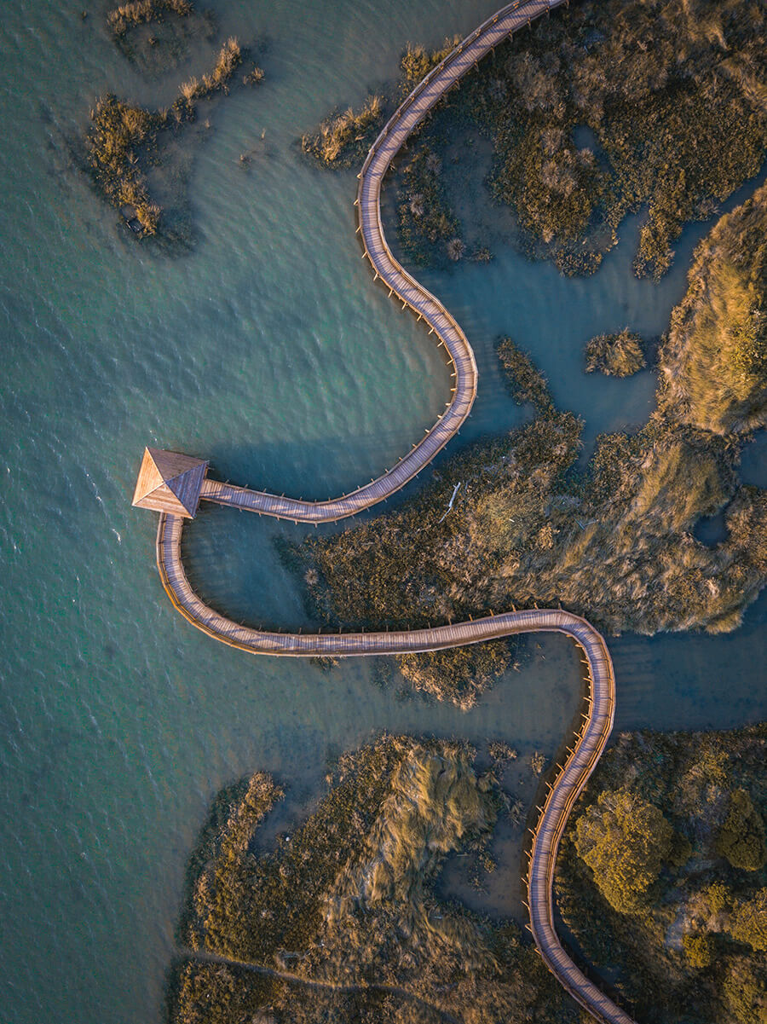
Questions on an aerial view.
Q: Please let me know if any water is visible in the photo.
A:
Yes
